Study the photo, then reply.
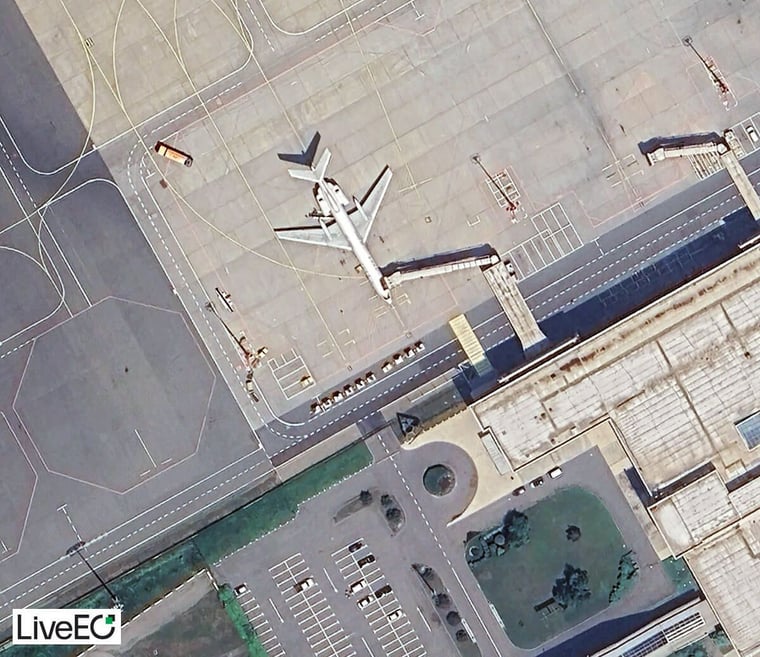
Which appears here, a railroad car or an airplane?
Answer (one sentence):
There is an airplane in the scene.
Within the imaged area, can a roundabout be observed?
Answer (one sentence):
Yes, a roundabout appears in the view.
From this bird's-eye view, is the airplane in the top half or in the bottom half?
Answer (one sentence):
You can find the airplane in the top half.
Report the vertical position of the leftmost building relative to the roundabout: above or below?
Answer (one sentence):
The leftmost building is above the roundabout.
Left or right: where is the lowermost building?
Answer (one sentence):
The lowermost building sits on the right side.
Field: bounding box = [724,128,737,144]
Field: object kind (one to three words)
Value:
vehicle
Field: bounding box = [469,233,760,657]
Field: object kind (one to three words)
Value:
building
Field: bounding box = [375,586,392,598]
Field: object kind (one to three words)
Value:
vehicle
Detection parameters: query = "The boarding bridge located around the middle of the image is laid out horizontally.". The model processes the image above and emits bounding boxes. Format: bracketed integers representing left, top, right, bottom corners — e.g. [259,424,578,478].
[381,252,502,288]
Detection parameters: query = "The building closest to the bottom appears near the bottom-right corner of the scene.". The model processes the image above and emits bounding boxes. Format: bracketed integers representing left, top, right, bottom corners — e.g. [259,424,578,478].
[578,596,721,657]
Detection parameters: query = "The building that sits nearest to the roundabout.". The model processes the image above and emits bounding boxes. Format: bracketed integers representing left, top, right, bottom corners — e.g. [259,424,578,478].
[398,412,427,445]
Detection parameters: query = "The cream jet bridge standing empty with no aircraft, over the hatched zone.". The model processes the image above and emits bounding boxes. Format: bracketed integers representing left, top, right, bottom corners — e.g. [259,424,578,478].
[646,141,729,166]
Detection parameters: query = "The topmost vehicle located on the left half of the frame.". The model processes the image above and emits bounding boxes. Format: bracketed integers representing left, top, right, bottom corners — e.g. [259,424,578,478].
[156,144,192,165]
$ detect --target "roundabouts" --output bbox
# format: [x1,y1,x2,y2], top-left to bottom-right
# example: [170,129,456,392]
[405,445,474,514]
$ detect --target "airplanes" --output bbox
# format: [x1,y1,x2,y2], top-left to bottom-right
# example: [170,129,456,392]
[273,148,392,304]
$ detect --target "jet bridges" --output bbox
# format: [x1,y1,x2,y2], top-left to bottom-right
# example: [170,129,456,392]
[646,141,729,166]
[381,252,502,288]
